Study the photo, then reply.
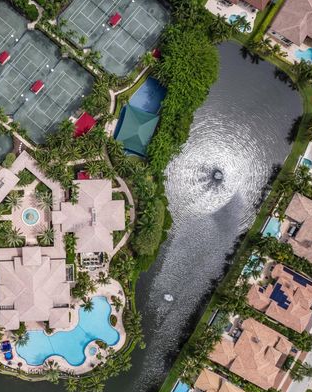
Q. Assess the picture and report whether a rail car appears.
No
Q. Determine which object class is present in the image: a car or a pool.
pool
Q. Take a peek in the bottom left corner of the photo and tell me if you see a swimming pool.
Yes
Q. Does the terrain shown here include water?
Yes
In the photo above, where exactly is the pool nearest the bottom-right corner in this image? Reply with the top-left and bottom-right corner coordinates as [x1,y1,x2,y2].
[208,310,232,332]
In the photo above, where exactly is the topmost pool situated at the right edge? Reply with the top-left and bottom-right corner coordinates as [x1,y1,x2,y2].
[296,48,312,62]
